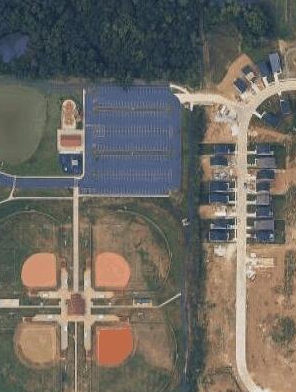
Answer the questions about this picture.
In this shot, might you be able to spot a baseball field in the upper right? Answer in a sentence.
No, I see no baseball field in the upper right.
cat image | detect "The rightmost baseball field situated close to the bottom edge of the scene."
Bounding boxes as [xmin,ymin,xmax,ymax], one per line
[90,321,177,392]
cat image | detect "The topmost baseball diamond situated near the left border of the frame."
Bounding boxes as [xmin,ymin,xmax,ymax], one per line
[0,203,63,293]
